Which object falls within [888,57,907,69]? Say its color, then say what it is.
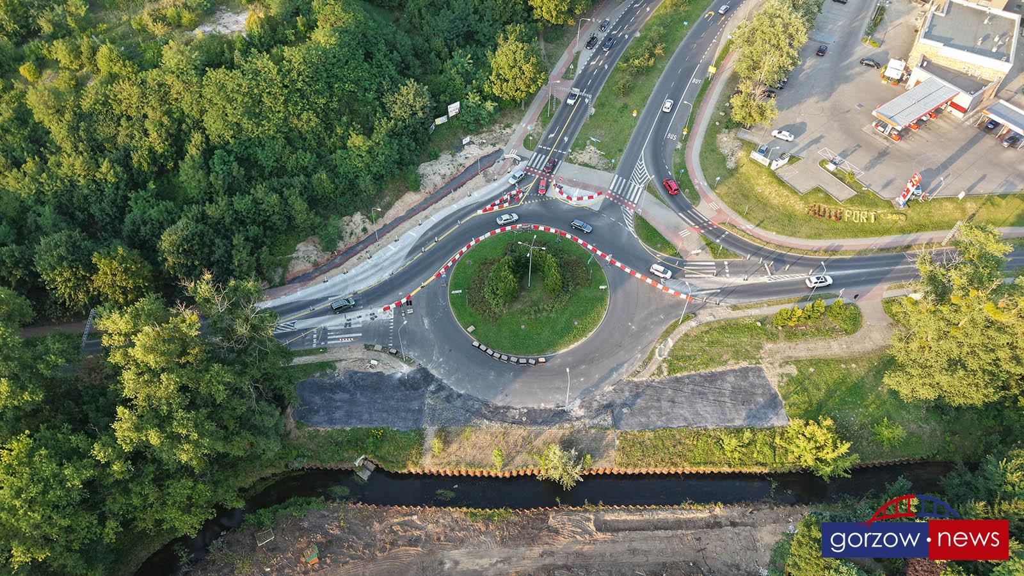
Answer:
white umbrella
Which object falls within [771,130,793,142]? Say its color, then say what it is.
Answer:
white vehicle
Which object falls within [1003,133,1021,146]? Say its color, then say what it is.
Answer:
gray vehicle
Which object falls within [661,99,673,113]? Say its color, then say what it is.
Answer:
white vehicle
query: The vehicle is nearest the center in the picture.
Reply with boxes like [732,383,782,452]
[496,213,519,226]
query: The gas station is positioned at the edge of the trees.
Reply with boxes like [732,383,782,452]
[737,0,1024,204]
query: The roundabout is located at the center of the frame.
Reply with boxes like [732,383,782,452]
[409,224,682,406]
